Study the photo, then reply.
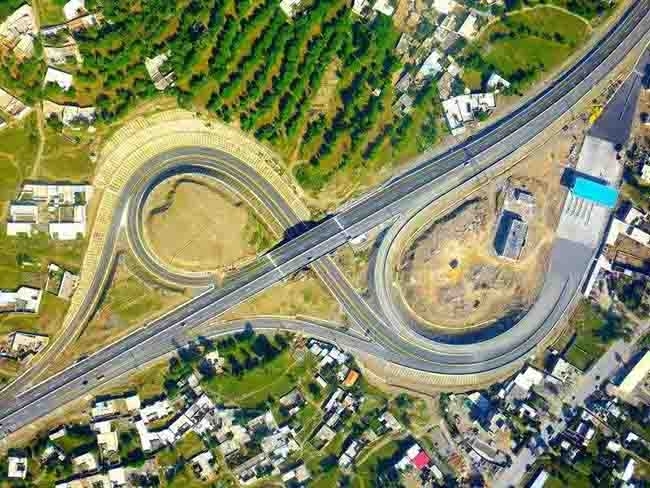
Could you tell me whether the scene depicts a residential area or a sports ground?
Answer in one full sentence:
This image shows a residential area.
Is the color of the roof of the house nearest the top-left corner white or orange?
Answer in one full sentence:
From above, the roof of the house nearest the top-left corner appears white.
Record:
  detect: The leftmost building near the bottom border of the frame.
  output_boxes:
[7,455,30,477]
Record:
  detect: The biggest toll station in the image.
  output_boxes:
[556,136,621,249]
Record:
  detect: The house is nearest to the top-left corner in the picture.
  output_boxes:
[1,3,37,41]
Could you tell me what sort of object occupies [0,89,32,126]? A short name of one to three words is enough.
house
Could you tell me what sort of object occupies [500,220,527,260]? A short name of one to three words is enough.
building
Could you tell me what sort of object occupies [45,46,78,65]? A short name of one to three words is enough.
house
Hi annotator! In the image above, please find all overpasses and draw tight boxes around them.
[260,213,358,282]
